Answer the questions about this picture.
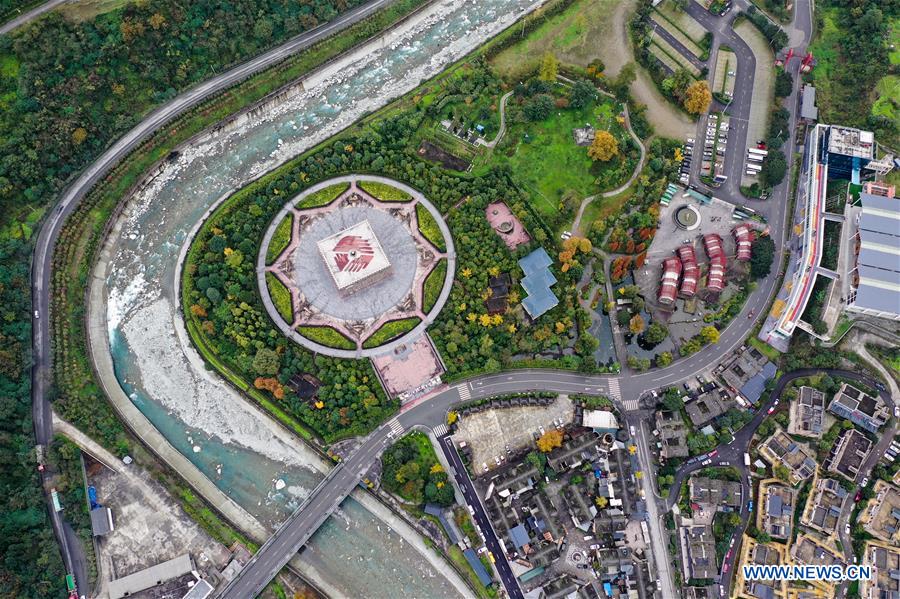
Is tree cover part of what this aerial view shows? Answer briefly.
Yes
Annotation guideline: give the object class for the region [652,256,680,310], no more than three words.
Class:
building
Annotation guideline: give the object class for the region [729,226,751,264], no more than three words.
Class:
building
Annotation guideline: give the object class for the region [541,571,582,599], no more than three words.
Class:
house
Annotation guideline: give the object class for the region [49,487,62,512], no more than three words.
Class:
vehicle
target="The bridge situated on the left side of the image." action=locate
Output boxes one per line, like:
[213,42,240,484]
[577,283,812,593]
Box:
[208,442,384,599]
